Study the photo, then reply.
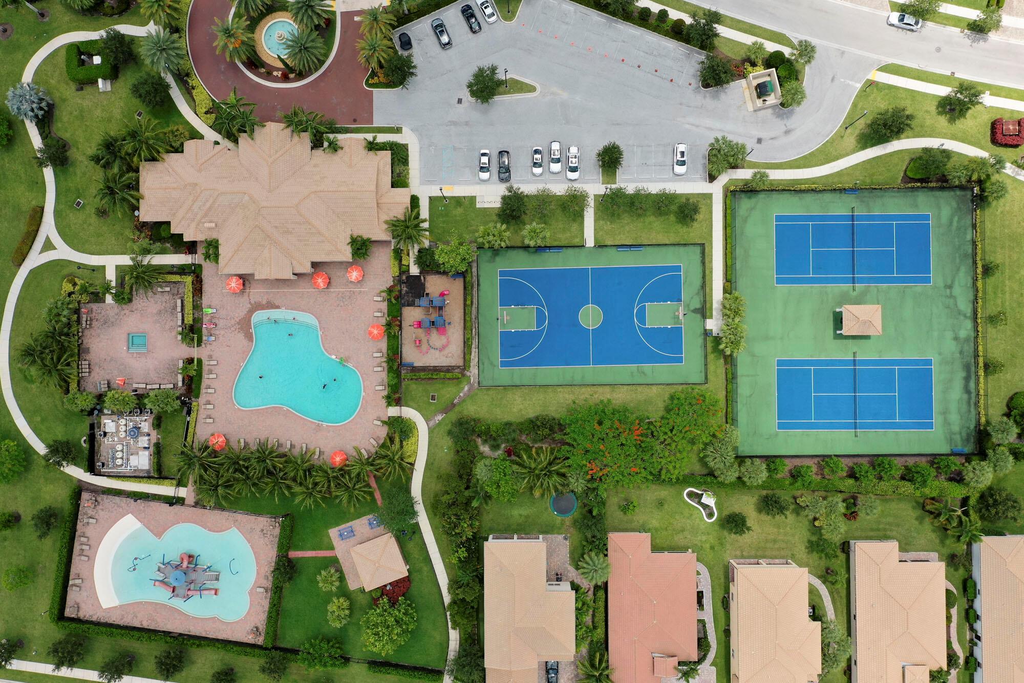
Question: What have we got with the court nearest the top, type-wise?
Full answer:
The court nearest the top appears to be a tennis court.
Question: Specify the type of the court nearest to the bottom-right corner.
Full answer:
The court nearest to the bottom-right corner can be classified as a tennis court.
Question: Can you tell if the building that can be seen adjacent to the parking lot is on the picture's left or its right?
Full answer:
It is on the left.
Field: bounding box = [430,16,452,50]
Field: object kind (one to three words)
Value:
car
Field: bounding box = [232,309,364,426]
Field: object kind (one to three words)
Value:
swimming pool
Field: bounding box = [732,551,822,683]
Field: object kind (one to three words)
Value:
house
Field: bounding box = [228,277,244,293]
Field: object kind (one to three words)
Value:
umbrella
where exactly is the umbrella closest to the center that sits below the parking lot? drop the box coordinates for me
[369,324,385,340]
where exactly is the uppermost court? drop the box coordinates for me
[774,213,932,286]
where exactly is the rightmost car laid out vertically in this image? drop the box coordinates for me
[674,141,689,174]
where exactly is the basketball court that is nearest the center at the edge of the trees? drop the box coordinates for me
[477,244,707,387]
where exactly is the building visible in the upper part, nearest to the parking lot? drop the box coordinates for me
[139,119,411,281]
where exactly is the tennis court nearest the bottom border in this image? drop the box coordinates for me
[776,358,935,430]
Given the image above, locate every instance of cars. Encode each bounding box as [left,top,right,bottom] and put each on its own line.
[889,12,924,30]
[548,139,563,173]
[476,0,497,22]
[530,145,544,175]
[460,1,482,34]
[545,660,560,683]
[497,148,512,181]
[674,141,689,174]
[476,148,491,180]
[566,145,582,179]
[430,16,452,50]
